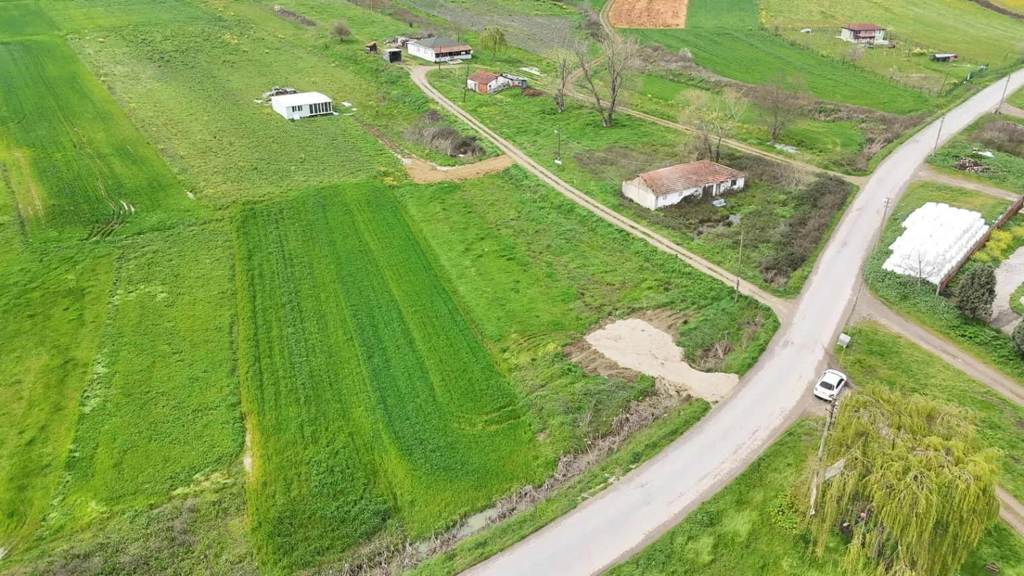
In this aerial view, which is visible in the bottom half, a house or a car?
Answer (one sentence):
It is a car that can be seen in the bottom half.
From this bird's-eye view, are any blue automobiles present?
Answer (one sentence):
No, the picture doesn't show any blue automobile.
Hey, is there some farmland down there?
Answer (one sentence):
Yes, there's farmland in this view.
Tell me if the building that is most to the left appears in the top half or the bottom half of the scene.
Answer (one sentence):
Seen from above, the building that is most to the left lies in the top half of the view.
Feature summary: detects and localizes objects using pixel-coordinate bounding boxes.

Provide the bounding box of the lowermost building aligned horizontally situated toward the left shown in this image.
[272,89,335,119]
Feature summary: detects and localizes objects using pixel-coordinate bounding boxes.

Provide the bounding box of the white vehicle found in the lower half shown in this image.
[811,366,850,400]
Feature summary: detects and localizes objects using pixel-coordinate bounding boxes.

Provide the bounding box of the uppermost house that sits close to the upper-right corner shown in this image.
[841,19,890,44]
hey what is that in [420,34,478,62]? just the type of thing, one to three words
house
